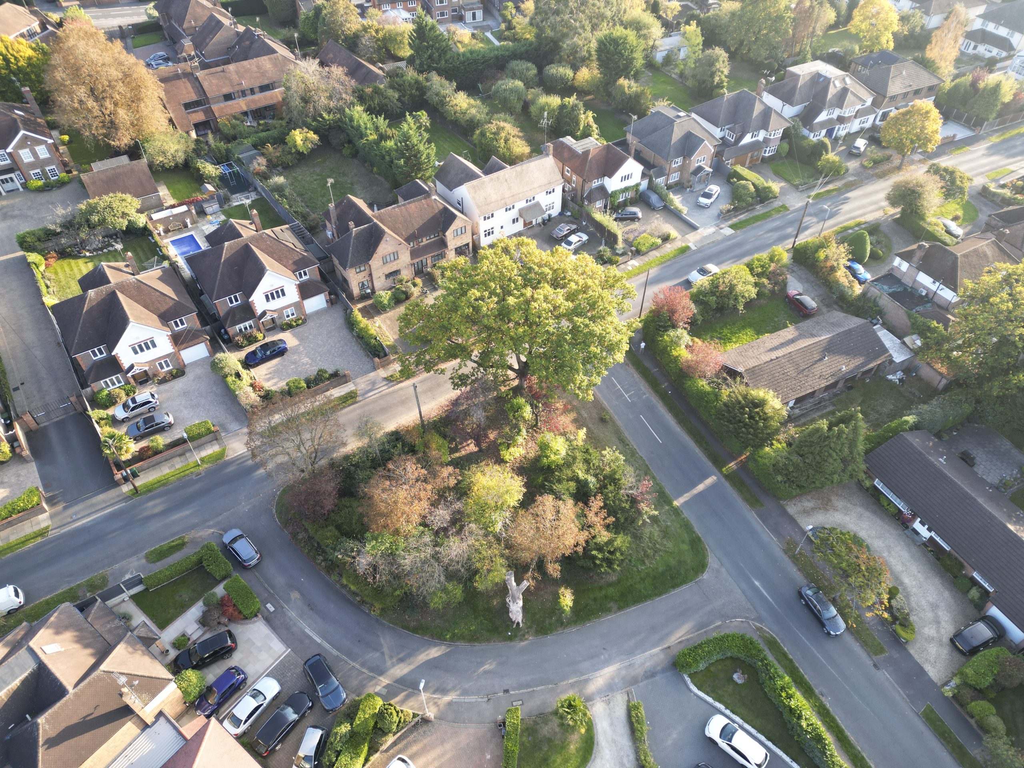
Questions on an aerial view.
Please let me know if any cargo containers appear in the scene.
No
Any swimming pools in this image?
Yes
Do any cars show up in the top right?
Yes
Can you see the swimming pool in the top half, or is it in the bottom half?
top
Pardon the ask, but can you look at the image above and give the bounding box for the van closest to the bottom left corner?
[0,586,30,618]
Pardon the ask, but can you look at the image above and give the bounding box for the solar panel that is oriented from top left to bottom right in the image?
[276,228,307,250]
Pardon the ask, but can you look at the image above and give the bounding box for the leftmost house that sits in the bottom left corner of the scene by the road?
[0,598,189,768]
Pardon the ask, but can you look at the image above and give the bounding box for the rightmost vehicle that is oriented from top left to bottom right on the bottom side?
[796,581,848,639]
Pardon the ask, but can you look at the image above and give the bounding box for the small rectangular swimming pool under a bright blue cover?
[168,233,205,257]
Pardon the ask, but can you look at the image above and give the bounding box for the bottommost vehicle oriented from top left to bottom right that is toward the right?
[701,711,770,768]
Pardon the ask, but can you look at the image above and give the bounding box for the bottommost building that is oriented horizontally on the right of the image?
[723,312,922,411]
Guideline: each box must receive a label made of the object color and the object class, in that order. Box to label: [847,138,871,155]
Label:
white car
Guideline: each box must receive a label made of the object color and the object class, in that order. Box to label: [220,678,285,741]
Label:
white car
